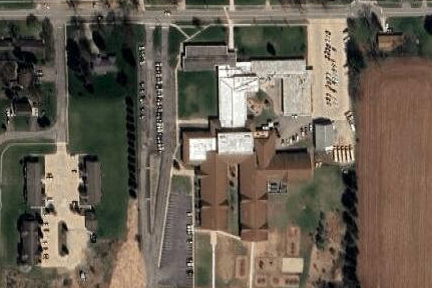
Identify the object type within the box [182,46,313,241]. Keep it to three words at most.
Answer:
building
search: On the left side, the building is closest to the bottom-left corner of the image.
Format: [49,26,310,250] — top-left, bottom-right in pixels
[19,219,39,266]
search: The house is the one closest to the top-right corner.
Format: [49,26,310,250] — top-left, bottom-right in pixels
[377,34,402,50]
